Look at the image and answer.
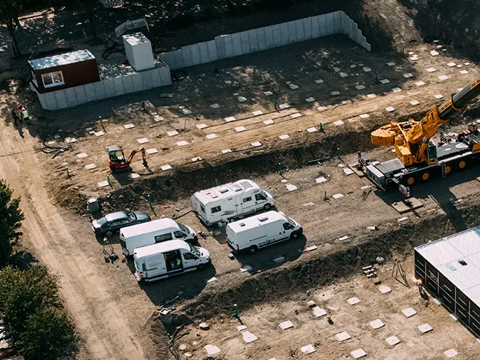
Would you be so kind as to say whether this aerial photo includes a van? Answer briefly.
Yes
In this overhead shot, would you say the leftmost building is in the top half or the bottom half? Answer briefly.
top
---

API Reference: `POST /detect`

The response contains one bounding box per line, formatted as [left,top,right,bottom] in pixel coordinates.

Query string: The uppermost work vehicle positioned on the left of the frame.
[109,143,153,173]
